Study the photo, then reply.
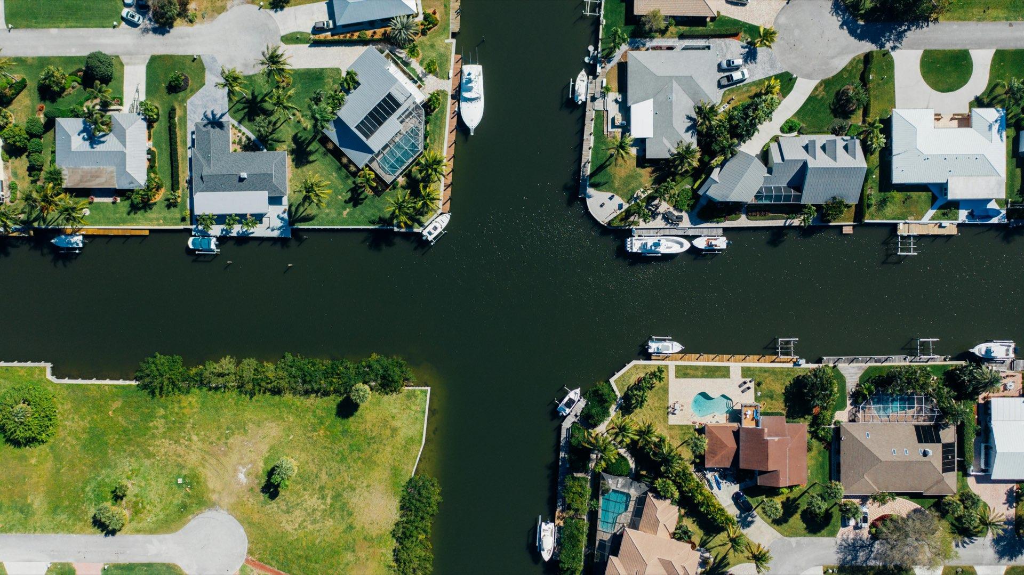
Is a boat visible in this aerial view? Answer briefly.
Yes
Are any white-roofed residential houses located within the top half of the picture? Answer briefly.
Yes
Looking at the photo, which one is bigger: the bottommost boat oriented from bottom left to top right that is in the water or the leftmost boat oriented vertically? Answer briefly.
the leftmost boat oriented vertically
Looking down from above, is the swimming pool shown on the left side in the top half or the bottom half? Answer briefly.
top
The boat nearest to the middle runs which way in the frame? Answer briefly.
on a diagonal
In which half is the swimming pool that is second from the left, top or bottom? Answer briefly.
bottom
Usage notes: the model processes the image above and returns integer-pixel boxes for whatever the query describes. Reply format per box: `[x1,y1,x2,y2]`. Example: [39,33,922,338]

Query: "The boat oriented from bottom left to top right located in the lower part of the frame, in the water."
[555,387,581,418]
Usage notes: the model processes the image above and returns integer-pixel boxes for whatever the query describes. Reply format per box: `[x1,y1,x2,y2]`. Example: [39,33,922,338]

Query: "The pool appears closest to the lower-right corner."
[871,393,916,419]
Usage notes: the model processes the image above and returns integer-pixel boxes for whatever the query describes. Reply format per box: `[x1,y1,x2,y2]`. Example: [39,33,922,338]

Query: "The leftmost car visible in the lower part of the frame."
[731,489,752,514]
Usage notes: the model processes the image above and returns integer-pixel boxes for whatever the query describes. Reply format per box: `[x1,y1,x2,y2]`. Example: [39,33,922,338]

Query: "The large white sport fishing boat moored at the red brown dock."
[460,45,484,137]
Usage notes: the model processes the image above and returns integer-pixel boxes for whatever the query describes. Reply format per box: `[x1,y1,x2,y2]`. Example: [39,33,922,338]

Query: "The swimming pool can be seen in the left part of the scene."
[378,125,422,175]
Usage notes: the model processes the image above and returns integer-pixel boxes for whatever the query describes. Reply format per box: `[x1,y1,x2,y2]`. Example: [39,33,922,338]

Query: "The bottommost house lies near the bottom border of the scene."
[606,492,700,575]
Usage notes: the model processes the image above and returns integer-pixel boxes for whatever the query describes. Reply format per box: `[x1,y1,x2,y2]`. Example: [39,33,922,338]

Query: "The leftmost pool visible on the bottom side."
[598,489,632,532]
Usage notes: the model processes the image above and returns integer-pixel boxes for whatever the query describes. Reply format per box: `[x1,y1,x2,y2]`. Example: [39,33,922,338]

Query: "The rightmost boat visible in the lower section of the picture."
[968,342,1019,358]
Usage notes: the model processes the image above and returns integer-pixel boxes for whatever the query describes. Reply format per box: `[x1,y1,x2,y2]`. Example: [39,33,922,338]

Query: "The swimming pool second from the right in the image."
[754,190,786,202]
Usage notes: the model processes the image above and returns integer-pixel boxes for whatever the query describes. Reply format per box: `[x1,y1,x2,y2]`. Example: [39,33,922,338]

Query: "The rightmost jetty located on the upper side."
[897,223,958,236]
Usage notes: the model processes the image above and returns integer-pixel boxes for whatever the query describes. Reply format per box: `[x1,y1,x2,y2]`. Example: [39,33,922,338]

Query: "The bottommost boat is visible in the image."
[540,519,554,564]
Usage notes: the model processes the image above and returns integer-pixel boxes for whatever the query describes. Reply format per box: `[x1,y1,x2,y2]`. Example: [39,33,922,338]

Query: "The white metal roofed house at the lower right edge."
[987,397,1024,479]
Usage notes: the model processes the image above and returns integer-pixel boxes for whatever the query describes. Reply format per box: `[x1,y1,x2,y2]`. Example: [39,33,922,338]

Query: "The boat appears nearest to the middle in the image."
[422,212,451,241]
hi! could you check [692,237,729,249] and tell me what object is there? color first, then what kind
white boat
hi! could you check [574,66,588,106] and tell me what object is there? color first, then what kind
white boat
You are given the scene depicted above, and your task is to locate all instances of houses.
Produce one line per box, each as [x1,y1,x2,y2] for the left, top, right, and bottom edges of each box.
[0,137,8,198]
[698,136,867,204]
[606,492,700,575]
[890,108,1006,199]
[628,50,718,158]
[55,113,149,189]
[634,0,716,17]
[332,0,417,26]
[705,416,807,487]
[192,121,288,214]
[987,397,1024,479]
[839,423,956,495]
[323,45,426,169]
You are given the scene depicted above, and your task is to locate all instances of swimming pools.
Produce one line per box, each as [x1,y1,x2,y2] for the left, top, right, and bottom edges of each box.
[378,125,422,175]
[598,489,632,532]
[754,190,786,202]
[690,391,734,418]
[871,393,916,419]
